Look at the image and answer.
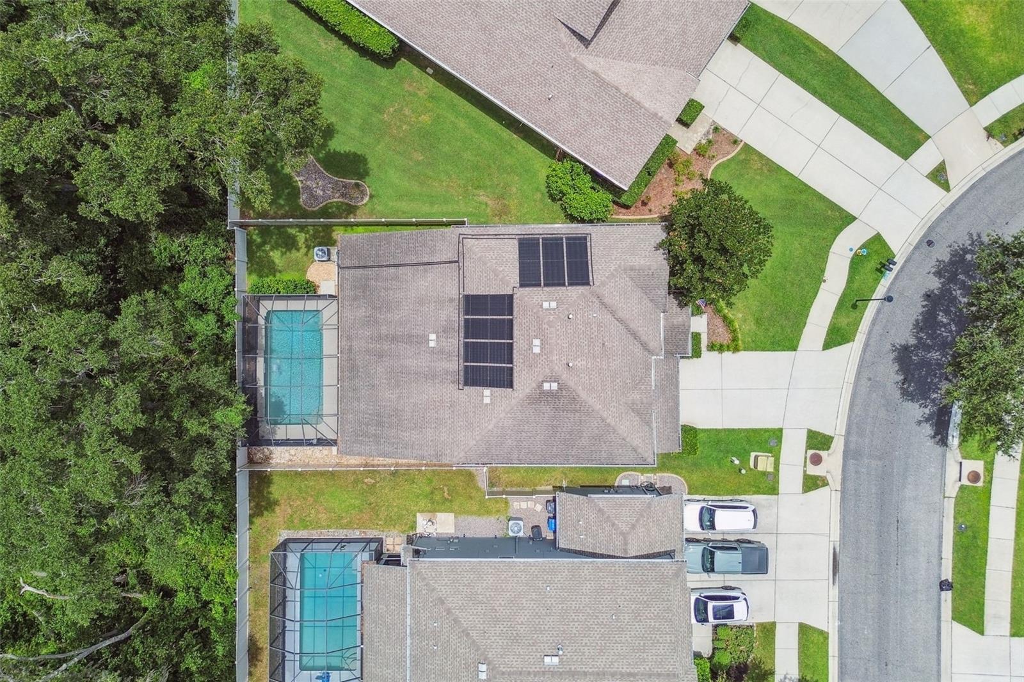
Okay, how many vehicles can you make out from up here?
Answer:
three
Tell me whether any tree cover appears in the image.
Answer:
Yes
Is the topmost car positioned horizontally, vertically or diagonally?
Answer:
horizontally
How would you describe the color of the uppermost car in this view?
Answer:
white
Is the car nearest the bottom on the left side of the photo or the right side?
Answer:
right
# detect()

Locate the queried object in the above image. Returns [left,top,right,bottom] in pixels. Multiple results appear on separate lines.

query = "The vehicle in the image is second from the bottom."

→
[685,541,768,578]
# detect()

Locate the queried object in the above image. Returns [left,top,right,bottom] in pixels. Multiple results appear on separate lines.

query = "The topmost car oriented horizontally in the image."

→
[685,501,758,537]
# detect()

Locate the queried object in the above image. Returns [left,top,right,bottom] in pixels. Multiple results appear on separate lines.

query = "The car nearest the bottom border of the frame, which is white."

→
[691,590,751,627]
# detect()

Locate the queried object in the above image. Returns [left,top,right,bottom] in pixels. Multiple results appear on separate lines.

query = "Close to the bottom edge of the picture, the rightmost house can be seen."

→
[362,486,695,682]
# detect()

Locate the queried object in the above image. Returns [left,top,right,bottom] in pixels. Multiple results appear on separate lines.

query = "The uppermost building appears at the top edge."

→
[346,0,753,190]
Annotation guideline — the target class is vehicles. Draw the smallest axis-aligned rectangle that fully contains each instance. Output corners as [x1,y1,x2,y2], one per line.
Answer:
[691,590,751,627]
[685,501,758,537]
[685,541,768,578]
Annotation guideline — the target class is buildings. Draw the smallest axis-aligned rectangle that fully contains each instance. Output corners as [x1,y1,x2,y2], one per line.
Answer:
[346,0,753,190]
[338,222,696,468]
[362,486,695,682]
